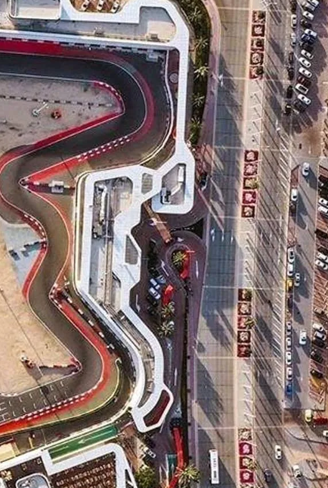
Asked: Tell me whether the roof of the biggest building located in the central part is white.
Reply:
Yes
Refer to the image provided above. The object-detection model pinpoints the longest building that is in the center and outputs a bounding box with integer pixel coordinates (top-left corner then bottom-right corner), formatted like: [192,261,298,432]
[74,145,194,432]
